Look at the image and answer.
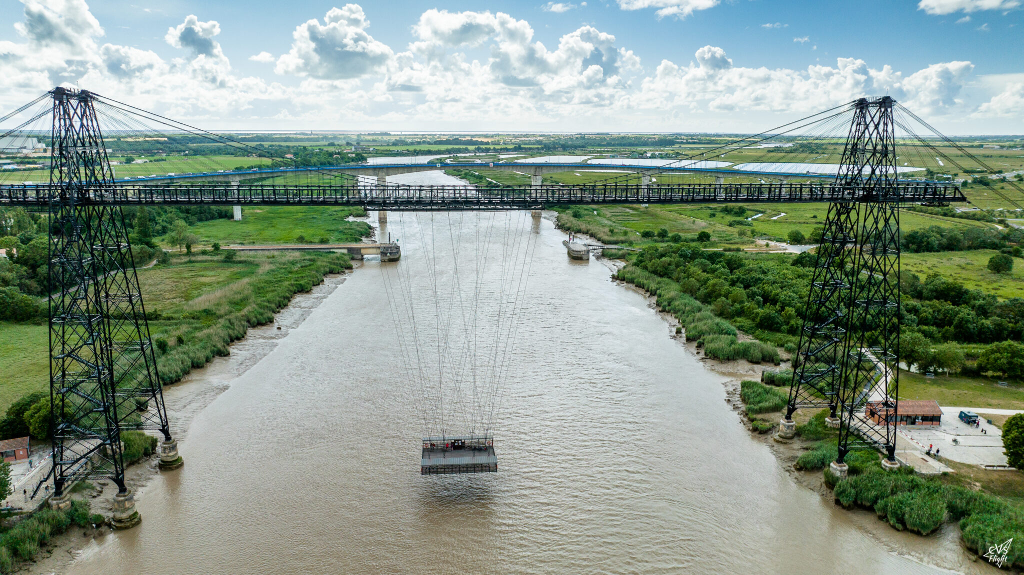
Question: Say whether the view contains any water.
Yes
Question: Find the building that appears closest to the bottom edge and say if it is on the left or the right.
left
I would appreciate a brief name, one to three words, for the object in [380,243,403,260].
pier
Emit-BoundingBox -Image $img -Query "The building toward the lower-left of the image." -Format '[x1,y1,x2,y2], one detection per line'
[0,433,34,462]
